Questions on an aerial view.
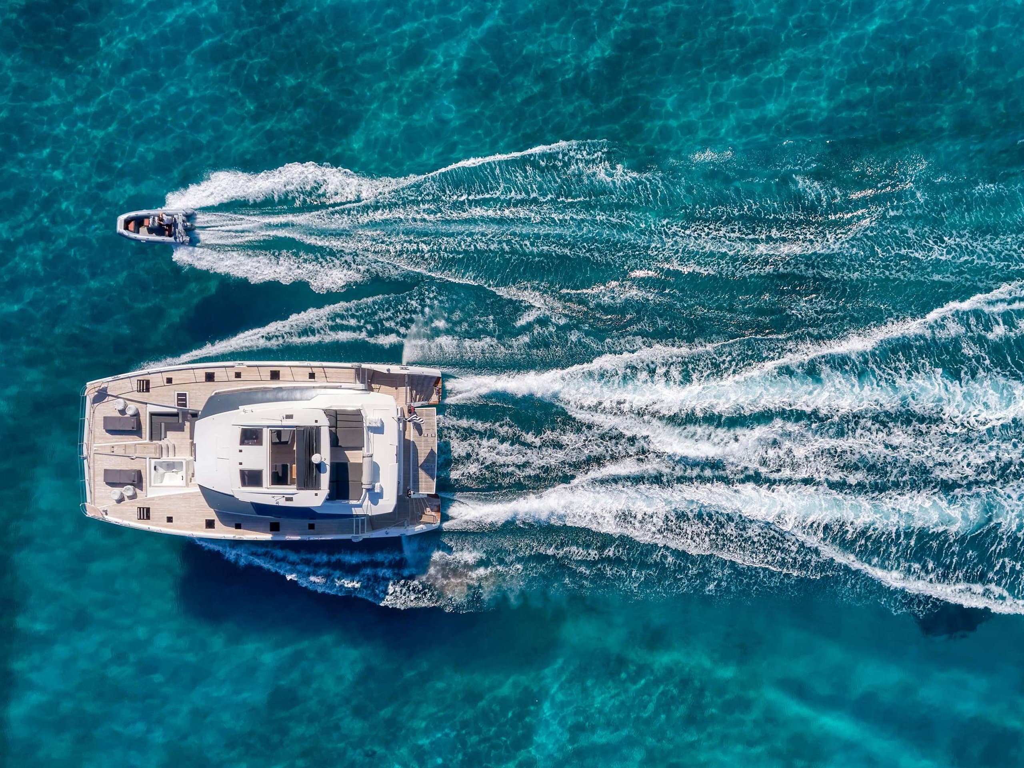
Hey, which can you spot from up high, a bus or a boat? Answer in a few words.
boat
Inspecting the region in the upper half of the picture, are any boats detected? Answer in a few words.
Yes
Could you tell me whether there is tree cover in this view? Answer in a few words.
No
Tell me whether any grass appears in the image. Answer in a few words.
No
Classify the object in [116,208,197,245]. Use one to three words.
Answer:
boat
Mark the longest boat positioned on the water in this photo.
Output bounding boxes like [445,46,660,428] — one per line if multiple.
[78,361,444,541]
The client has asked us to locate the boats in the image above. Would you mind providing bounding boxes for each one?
[78,361,444,541]
[116,208,197,245]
